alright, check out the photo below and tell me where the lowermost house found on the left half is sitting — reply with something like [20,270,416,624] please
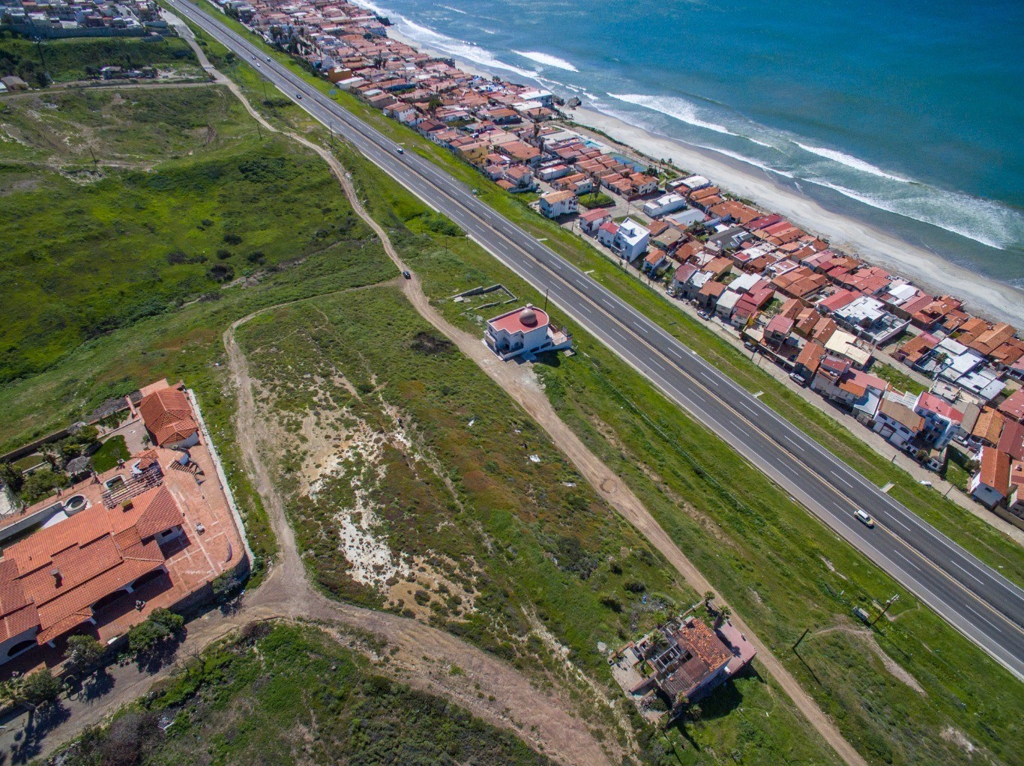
[0,484,184,660]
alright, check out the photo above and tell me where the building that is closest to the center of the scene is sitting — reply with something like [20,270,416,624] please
[484,302,572,358]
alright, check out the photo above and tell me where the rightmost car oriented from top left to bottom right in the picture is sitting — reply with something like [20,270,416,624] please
[916,474,939,490]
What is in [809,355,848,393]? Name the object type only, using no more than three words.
house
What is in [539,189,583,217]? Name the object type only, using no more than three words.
house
